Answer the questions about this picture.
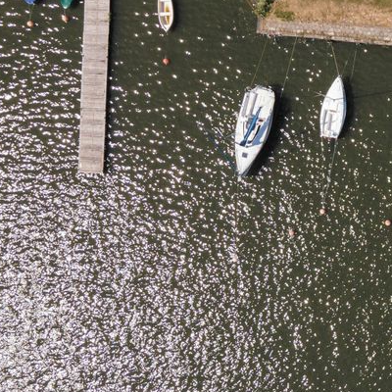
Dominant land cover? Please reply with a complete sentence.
The bulk of the photo consists of water.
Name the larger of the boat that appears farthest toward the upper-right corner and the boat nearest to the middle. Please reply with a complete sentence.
The boat nearest to the middle takes up more space than the boat that appears farthest toward the upper-right corner does.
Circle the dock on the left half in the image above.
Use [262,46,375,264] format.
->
[78,0,111,175]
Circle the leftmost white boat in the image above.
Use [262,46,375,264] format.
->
[156,0,174,33]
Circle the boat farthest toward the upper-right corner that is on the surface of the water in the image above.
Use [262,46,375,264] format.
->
[316,75,346,142]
